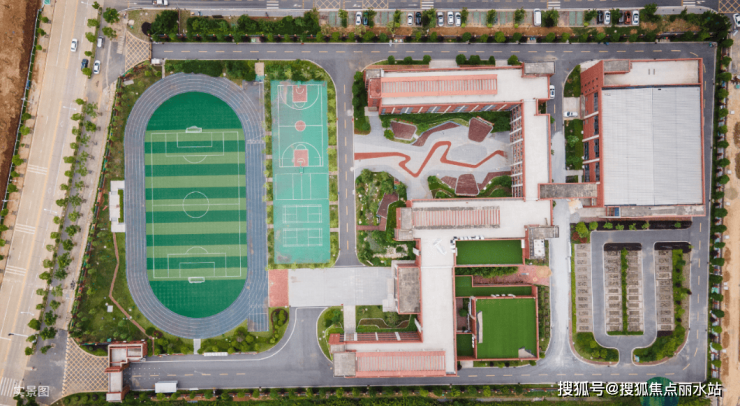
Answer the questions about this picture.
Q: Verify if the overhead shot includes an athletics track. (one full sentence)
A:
Yes, there is an athletics track in the image.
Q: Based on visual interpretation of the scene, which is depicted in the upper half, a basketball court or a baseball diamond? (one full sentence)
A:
Looking in the upper half, you will find a basketball court.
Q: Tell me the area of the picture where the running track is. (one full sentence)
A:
You can find the running track in the left area of the picture.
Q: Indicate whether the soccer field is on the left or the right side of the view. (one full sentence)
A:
The soccer field sits on the left side.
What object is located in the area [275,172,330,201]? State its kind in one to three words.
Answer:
sports court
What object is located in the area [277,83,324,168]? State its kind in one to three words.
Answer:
basketball court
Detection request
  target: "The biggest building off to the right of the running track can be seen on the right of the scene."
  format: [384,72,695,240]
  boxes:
[330,61,559,379]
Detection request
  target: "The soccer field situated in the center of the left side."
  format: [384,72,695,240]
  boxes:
[145,93,248,317]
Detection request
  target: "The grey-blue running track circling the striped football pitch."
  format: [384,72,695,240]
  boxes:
[124,72,270,338]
